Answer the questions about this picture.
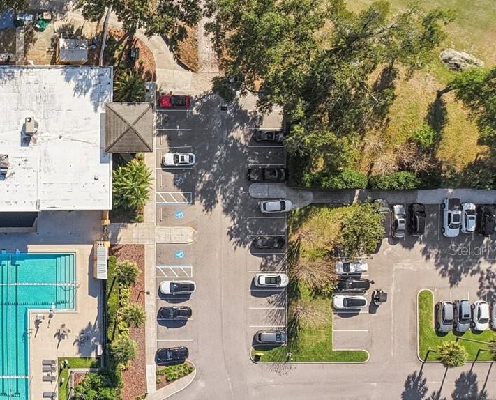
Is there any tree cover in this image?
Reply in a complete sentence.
Yes, tree cover shows up in the scene.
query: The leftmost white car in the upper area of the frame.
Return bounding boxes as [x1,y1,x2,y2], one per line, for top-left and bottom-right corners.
[161,151,195,167]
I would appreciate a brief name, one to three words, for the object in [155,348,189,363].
car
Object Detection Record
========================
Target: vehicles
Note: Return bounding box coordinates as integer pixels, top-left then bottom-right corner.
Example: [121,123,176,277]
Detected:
[155,348,189,363]
[256,198,292,215]
[475,204,495,235]
[451,300,472,332]
[488,301,496,330]
[157,93,190,109]
[335,277,372,293]
[388,205,409,238]
[252,330,286,347]
[252,274,287,289]
[470,300,491,331]
[157,306,191,319]
[159,280,195,296]
[161,151,195,167]
[330,294,366,311]
[459,203,476,233]
[440,197,462,238]
[367,291,389,303]
[245,166,287,183]
[407,203,426,235]
[435,300,455,332]
[251,235,285,251]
